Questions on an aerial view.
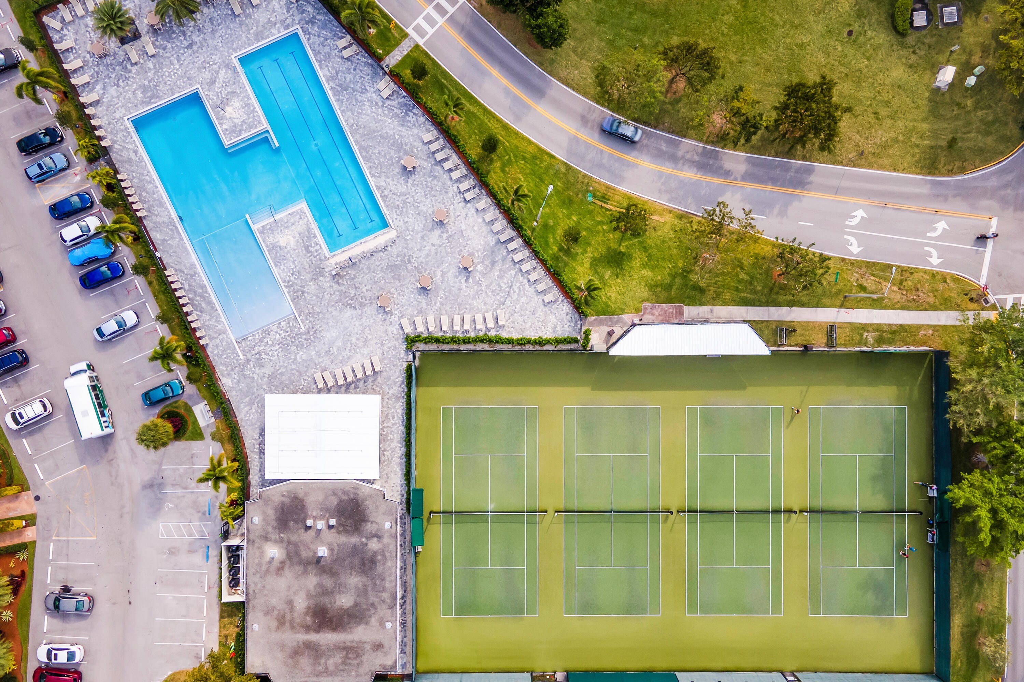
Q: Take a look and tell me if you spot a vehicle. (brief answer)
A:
Yes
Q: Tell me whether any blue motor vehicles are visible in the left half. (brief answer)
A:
Yes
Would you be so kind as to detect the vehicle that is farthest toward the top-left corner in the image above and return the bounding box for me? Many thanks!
[0,52,25,77]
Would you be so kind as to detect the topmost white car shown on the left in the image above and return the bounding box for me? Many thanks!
[57,215,103,246]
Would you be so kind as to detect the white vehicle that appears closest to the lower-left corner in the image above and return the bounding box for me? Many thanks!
[40,642,83,664]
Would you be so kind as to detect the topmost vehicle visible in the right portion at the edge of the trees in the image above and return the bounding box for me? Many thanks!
[600,116,643,145]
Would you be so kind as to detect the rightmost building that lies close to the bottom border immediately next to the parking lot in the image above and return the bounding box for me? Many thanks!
[245,478,401,682]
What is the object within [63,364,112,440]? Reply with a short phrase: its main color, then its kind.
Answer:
white vehicle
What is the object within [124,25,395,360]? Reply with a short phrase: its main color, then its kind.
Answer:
blue swimming pool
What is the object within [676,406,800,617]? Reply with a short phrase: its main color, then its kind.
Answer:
green tennis court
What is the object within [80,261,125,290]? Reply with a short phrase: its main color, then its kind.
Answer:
blue car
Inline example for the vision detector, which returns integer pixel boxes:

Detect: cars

[0,324,18,347]
[49,591,92,613]
[141,379,186,407]
[80,261,125,290]
[49,191,95,220]
[94,312,140,341]
[6,398,53,428]
[0,52,25,77]
[70,239,116,267]
[600,116,643,145]
[0,348,30,376]
[24,154,70,184]
[40,642,83,664]
[57,215,103,246]
[17,126,63,155]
